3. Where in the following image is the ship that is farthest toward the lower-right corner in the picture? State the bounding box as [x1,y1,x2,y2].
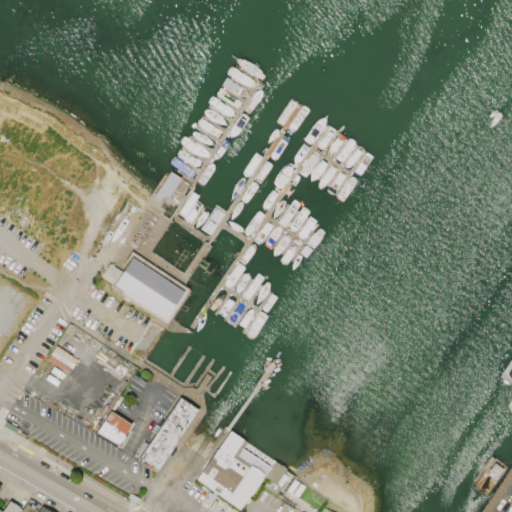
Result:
[476,459,508,496]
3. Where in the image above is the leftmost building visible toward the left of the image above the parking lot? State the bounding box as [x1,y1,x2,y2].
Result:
[49,345,81,374]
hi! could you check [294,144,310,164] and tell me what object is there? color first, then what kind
white boat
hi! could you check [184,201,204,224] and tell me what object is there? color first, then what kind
white boat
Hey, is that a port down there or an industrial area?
port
